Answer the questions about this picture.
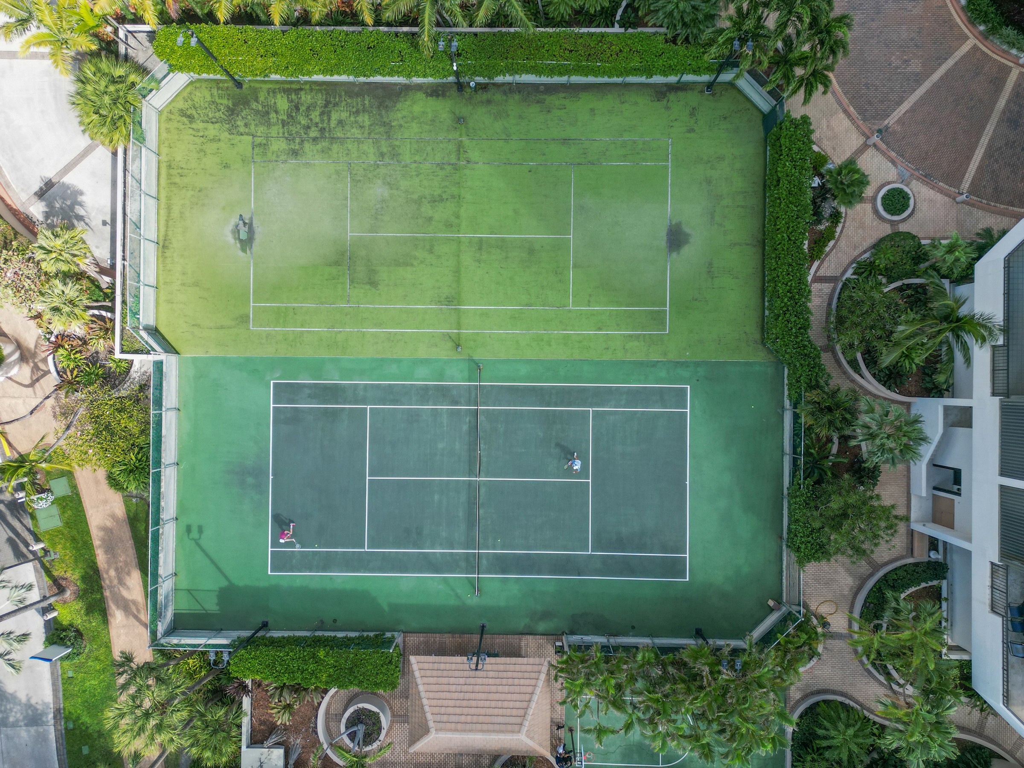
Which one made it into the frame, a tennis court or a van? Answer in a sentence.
Looking from above, you can make out a tennis court.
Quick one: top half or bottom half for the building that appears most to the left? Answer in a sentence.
It is in the bottom half that the building that appears most to the left appears.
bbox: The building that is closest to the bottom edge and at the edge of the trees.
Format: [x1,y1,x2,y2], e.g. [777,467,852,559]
[406,651,553,759]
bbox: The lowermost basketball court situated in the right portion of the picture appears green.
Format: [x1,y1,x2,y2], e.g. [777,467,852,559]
[564,637,785,768]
